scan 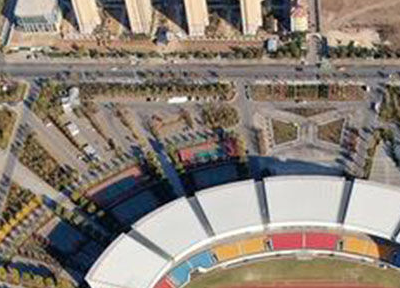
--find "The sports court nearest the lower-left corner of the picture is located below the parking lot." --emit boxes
[36,217,93,263]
